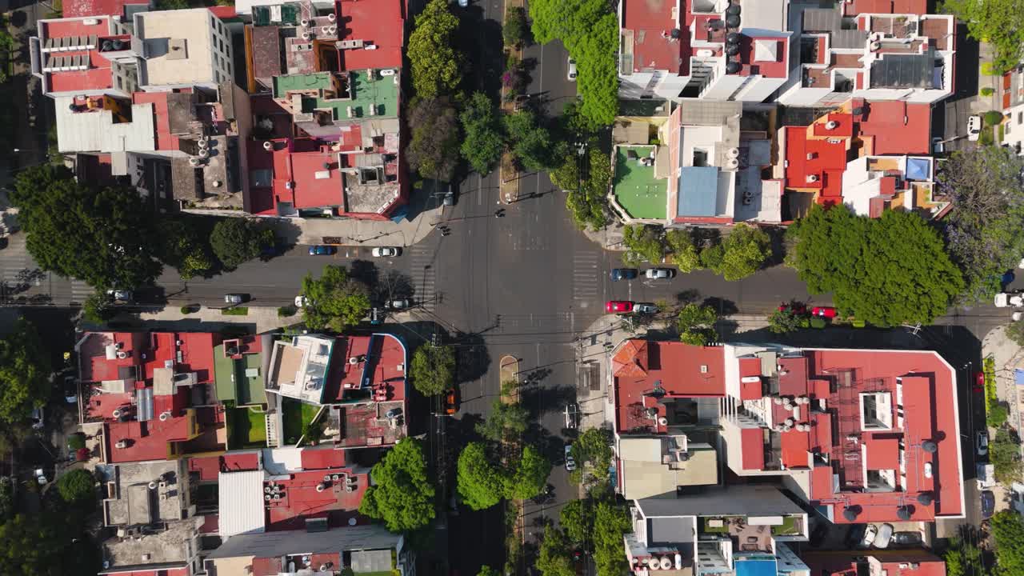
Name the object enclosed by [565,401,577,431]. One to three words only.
vehicle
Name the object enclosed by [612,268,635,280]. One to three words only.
vehicle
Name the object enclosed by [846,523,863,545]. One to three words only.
car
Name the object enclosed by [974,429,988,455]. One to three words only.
car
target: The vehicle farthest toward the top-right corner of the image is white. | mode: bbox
[965,113,981,142]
